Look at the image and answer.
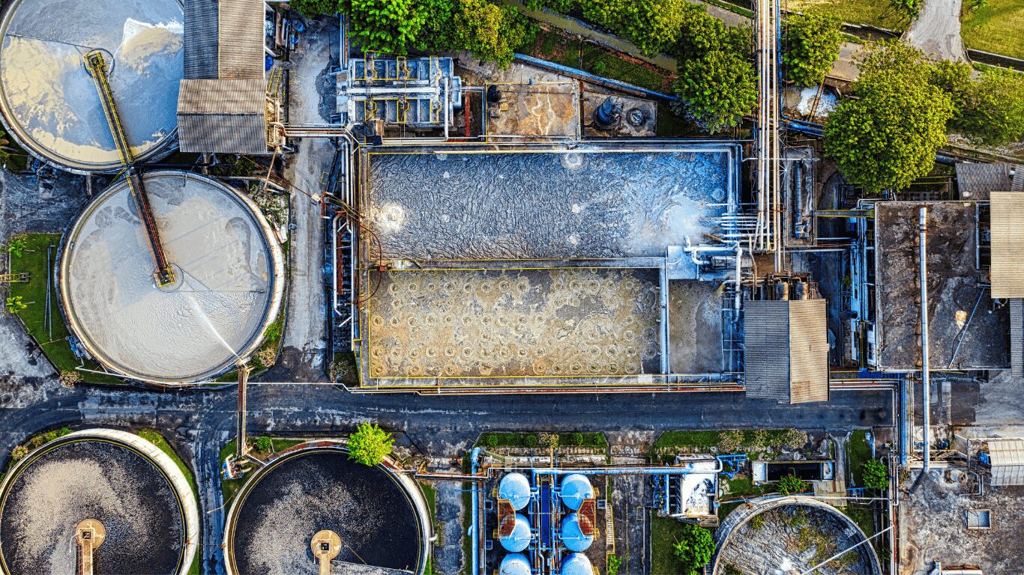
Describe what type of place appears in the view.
industrial area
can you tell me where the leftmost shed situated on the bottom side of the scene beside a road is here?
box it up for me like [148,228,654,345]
[737,300,829,405]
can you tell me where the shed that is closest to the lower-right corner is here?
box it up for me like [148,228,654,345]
[971,438,1024,486]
